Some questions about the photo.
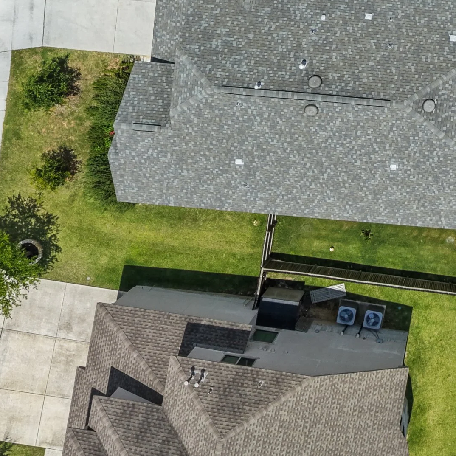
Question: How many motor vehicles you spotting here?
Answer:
none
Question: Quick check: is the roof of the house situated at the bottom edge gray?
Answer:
Yes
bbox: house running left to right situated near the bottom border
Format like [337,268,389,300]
[63,286,410,456]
